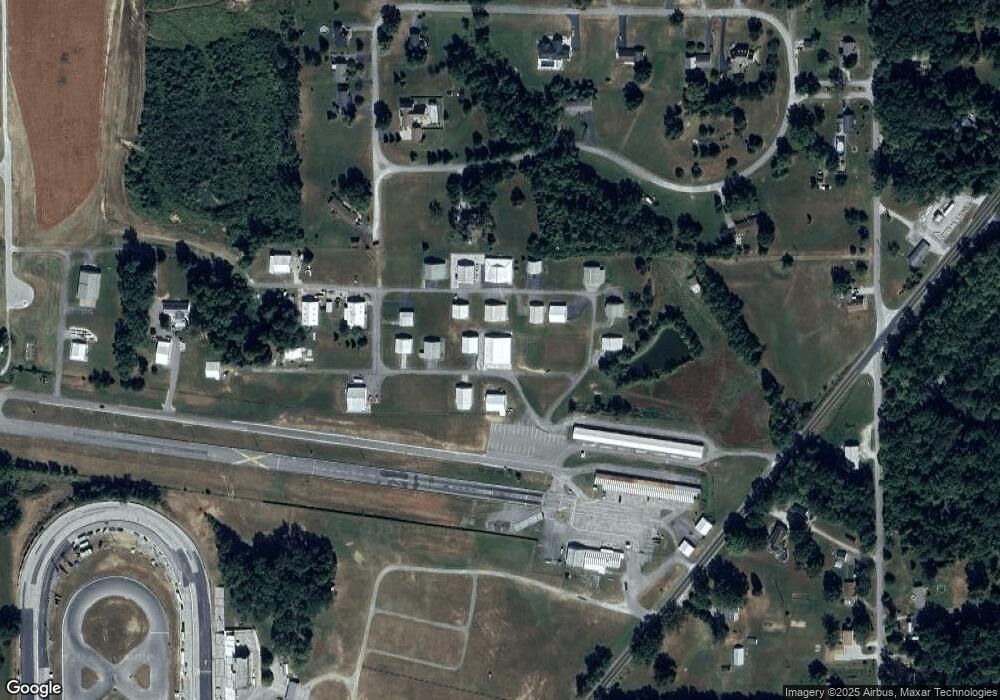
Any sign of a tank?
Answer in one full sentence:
No, the photo shows no tank.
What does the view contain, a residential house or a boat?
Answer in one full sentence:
This aerial view contains a residential house.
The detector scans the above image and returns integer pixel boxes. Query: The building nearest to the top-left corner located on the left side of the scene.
[78,269,102,308]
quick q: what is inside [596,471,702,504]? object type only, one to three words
shed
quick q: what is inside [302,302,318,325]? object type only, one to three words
hangar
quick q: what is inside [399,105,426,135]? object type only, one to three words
house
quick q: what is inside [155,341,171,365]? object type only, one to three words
building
